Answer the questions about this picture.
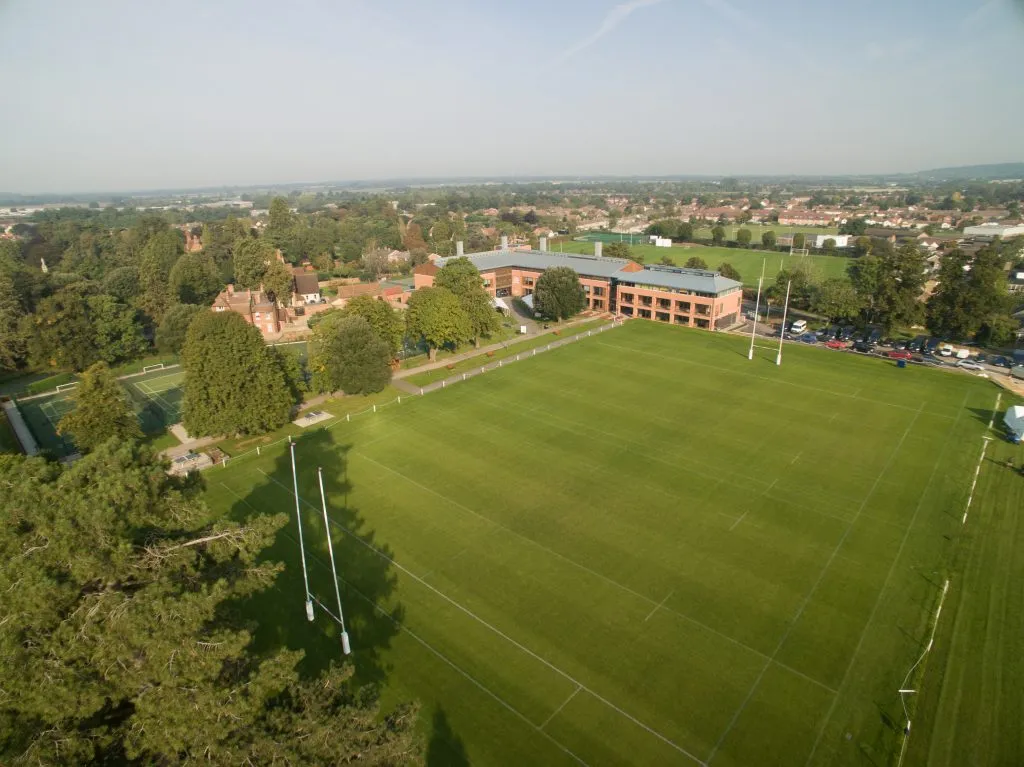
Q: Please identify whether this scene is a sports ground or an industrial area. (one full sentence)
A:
The picture captures a sports ground.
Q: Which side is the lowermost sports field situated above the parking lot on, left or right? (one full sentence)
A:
The lowermost sports field situated above the parking lot appears in the right half of the scene.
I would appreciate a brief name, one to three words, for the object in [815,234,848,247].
building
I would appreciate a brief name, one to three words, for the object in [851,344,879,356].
vehicle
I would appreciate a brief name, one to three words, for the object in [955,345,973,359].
vehicle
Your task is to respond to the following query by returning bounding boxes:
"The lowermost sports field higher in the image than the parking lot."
[561,241,866,301]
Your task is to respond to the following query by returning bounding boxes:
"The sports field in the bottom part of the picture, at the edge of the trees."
[183,319,998,767]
